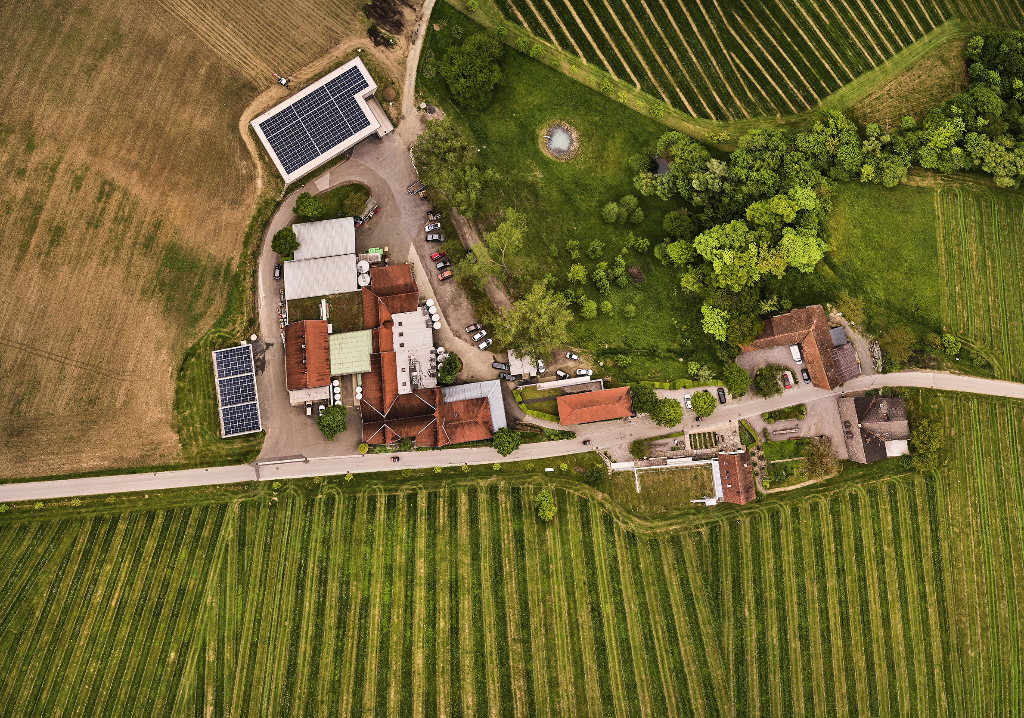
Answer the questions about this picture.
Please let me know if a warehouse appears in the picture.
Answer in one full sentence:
Yes, the picture does show a warehouse.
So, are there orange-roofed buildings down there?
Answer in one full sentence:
Yes, the frame does contain an orange-roofed building.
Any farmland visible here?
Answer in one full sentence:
Yes, farmland can be seen from above here.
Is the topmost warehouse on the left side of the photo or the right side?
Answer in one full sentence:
It is on the left.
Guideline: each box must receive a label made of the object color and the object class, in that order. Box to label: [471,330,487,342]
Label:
white vehicle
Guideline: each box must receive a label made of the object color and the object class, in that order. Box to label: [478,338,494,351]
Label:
white vehicle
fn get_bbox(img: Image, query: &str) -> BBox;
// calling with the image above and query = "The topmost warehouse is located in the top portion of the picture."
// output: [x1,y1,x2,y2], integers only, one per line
[250,56,383,187]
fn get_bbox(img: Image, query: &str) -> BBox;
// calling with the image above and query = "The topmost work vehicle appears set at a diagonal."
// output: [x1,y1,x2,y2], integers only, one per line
[271,70,290,87]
